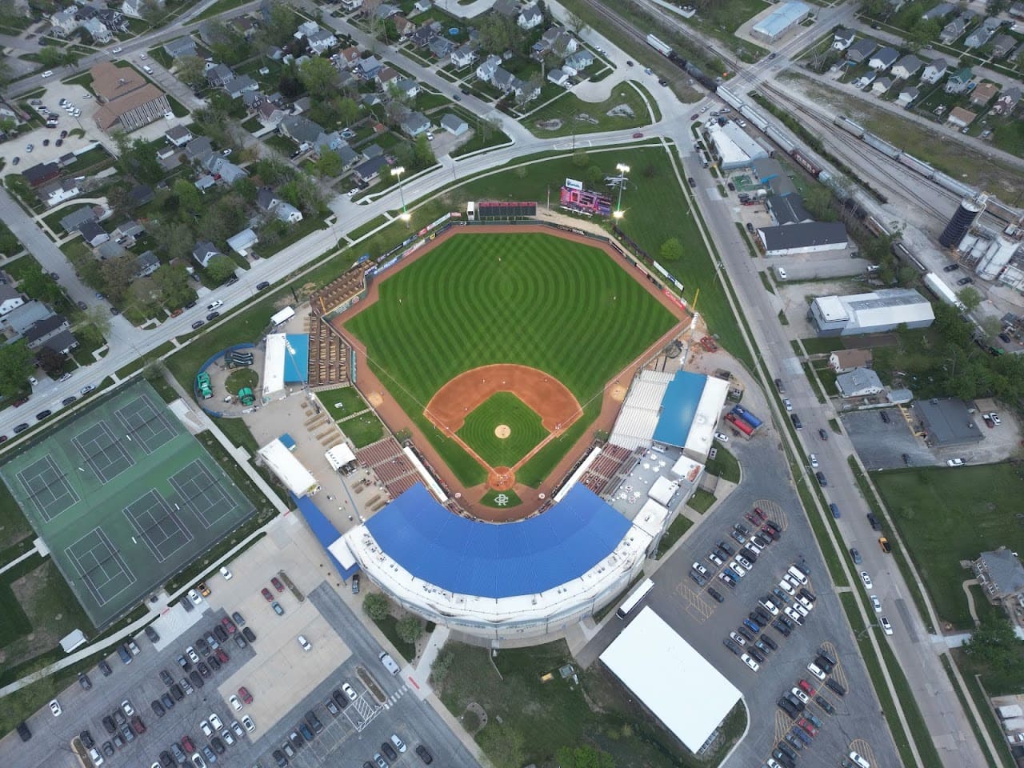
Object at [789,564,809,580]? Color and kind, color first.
white vehicle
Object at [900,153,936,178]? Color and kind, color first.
gray rail car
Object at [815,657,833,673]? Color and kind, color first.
black car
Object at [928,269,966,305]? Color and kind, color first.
white rail car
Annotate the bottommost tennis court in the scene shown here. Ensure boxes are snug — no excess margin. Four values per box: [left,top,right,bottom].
[65,527,136,606]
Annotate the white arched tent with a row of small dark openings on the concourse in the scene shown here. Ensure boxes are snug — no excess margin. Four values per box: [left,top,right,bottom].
[326,444,359,479]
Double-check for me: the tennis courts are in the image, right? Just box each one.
[65,527,136,606]
[71,417,135,481]
[168,459,237,528]
[15,454,81,523]
[122,486,192,559]
[115,394,178,455]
